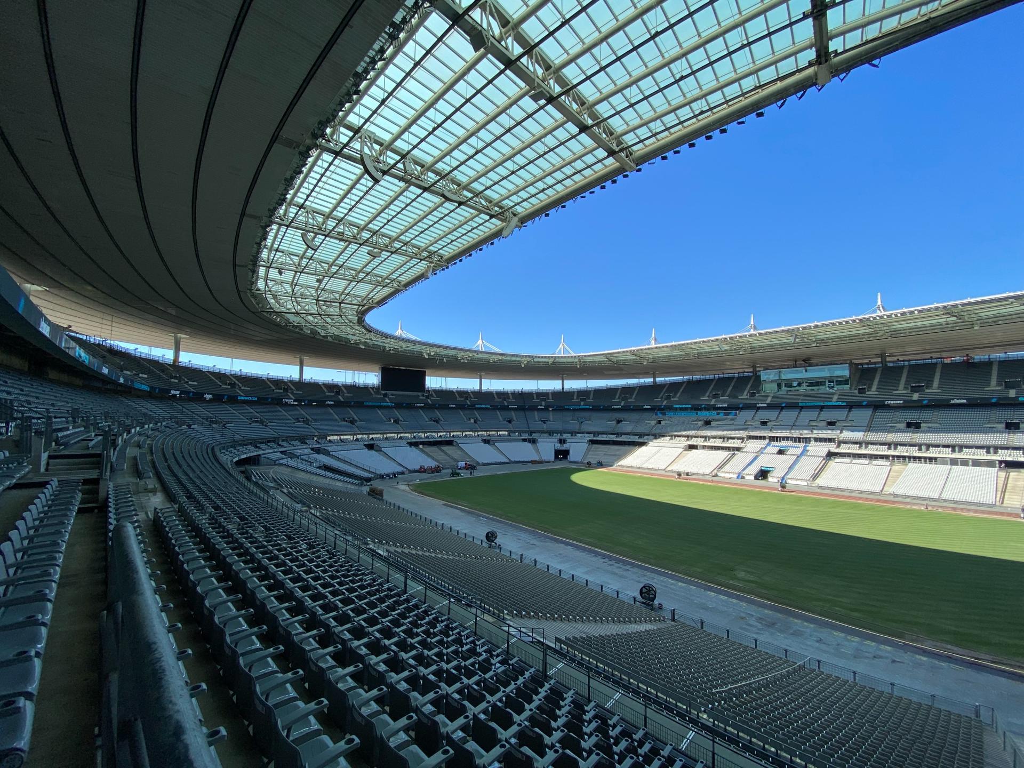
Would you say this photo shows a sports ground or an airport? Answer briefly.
sports ground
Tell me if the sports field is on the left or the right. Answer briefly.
right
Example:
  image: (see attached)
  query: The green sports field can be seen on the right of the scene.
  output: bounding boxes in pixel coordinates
[411,467,1024,673]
